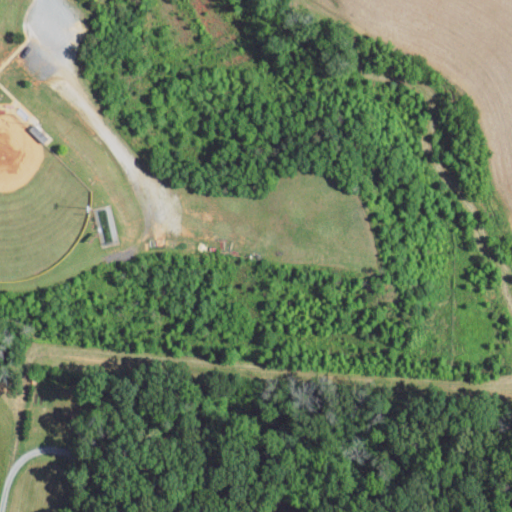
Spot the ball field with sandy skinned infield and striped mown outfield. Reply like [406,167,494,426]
[0,110,92,283]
